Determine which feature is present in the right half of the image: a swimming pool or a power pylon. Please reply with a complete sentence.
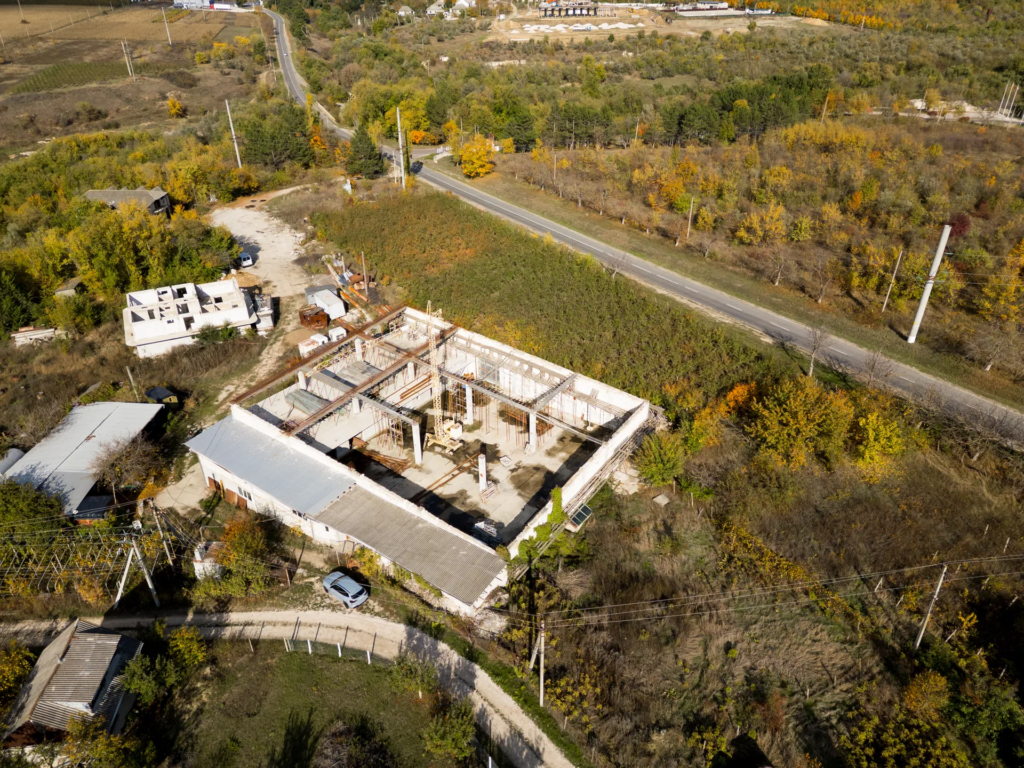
What appears in the right half of the image is a power pylon.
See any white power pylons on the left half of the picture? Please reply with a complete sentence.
Yes, there is a white power pylon on the left half of the picture.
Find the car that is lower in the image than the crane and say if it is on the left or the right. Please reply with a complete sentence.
You can find the car that is lower in the image than the crane on the left side of the picture.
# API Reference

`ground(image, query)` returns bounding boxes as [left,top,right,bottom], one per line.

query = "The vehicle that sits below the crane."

[322,572,367,608]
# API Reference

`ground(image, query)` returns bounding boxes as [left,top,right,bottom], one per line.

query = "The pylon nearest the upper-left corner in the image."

[223,100,242,165]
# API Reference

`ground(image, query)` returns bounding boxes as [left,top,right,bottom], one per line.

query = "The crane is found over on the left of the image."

[309,304,472,455]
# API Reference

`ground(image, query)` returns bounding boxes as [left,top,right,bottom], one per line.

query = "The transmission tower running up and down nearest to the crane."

[392,106,410,188]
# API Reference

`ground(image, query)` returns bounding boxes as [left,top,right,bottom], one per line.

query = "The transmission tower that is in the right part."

[907,226,952,343]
